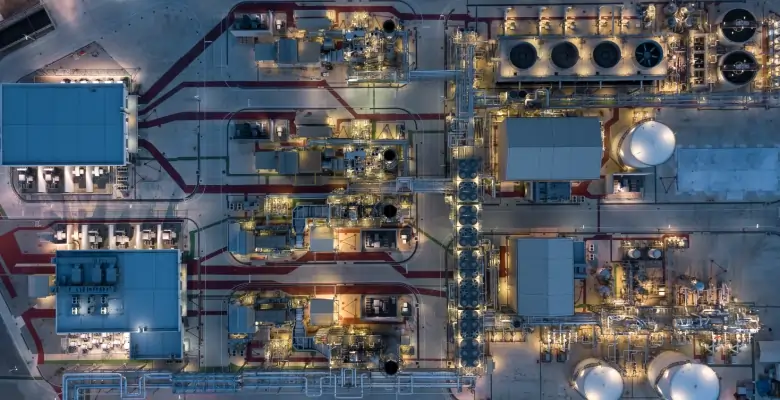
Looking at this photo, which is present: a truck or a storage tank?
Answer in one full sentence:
I can see a storage tank in this picture.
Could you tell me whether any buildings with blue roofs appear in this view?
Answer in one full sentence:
Yes, there is a building with a blue roof in the image.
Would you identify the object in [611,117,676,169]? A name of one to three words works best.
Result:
storage tank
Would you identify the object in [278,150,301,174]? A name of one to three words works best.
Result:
house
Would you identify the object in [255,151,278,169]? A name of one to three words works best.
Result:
house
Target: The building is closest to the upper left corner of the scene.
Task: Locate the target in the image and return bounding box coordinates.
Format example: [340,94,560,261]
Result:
[0,83,133,165]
